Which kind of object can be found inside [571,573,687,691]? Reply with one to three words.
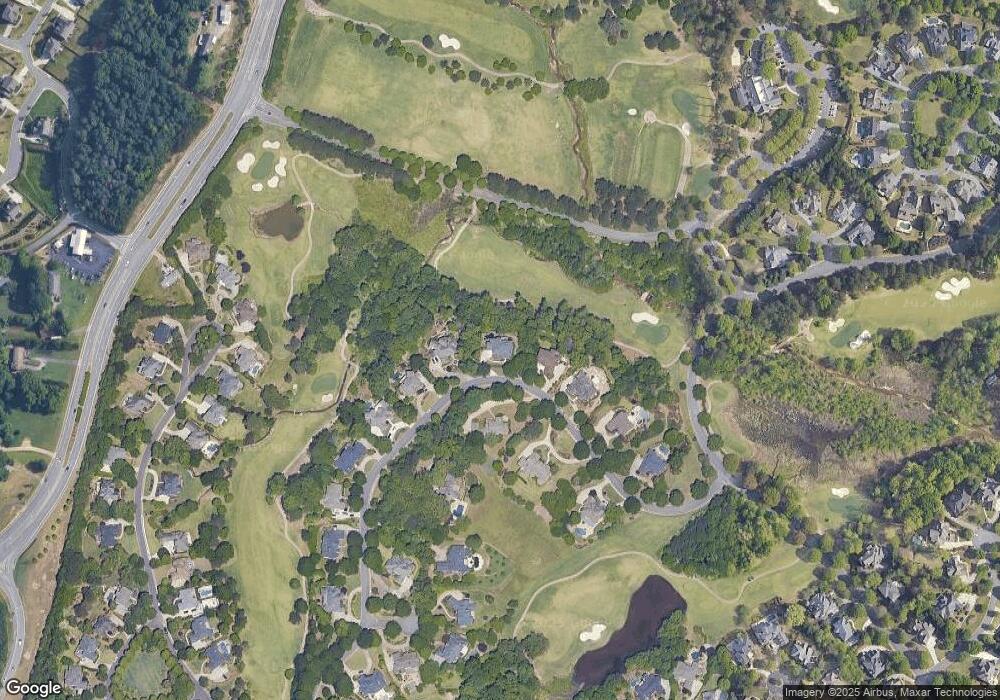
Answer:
pond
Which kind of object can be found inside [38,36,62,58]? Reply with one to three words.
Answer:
house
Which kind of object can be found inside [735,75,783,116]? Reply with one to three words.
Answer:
building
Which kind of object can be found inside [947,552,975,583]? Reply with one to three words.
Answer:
house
